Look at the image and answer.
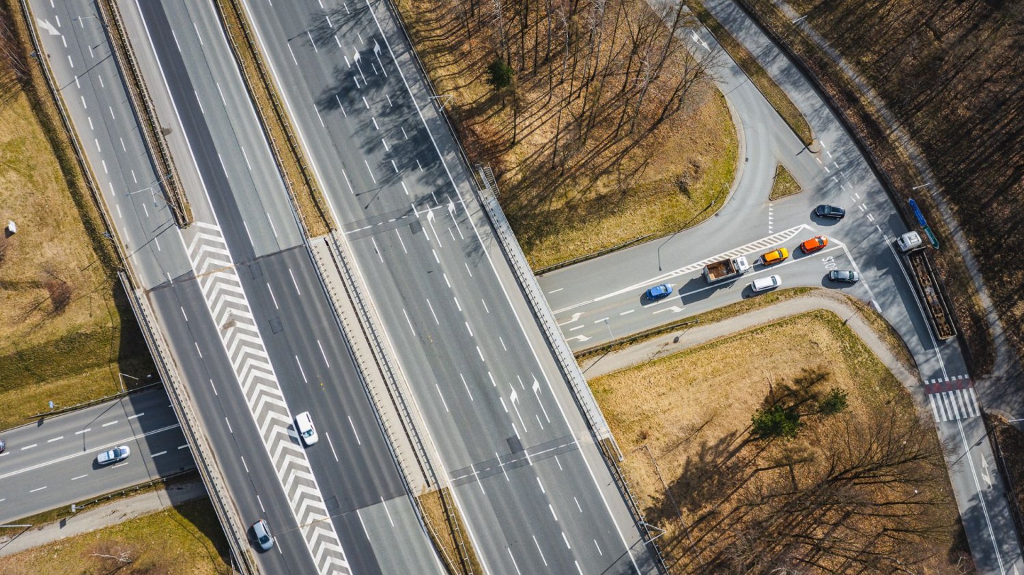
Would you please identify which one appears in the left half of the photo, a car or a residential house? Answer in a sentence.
You can see a car in the left half of the photo.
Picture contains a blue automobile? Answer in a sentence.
Yes, a blue automobile is visible in the scene.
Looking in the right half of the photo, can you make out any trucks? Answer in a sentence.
Yes, the scene does show a truck in the right half of the photo.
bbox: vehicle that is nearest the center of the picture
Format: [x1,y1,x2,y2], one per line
[645,283,673,301]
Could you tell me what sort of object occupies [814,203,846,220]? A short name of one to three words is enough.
car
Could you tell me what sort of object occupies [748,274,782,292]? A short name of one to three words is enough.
car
